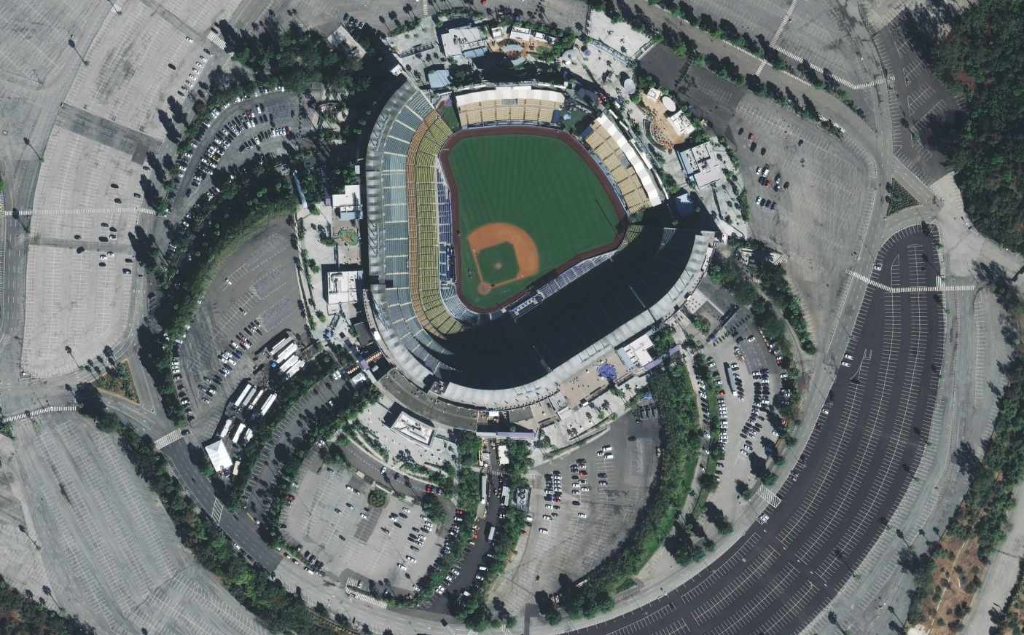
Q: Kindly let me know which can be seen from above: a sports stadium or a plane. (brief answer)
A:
sports stadium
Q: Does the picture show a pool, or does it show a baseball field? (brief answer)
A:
baseball field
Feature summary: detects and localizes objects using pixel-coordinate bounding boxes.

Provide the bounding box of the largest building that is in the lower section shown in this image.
[379,370,477,429]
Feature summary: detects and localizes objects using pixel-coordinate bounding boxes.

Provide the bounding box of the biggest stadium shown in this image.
[364,64,729,410]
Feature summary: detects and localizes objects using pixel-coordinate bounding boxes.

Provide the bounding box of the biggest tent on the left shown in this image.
[205,439,232,472]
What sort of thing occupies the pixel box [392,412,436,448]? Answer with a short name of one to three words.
building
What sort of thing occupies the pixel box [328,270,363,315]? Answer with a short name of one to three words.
building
